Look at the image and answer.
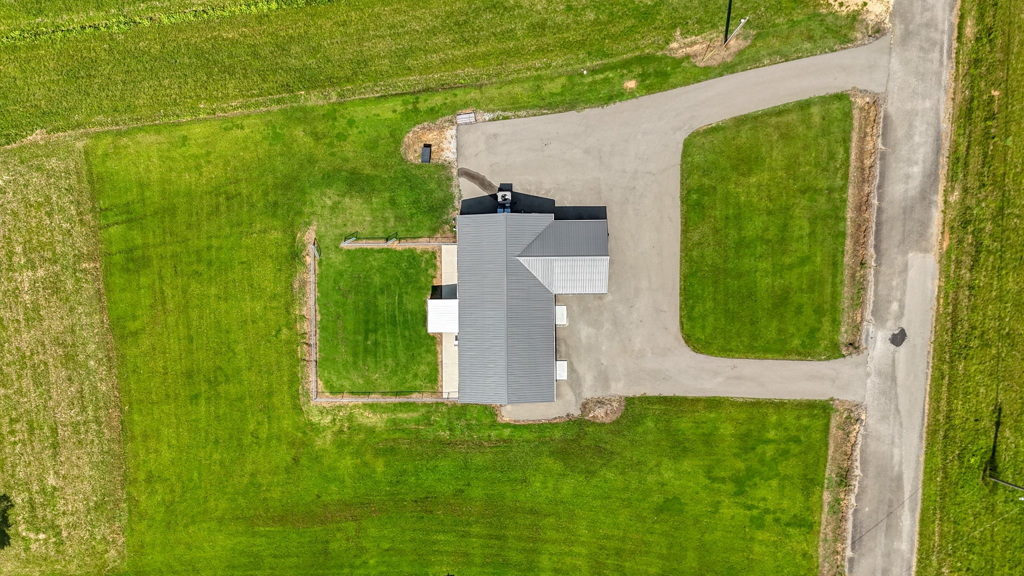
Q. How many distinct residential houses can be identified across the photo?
1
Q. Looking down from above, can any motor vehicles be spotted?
No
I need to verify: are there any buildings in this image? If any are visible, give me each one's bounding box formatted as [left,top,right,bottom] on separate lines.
[457,213,609,405]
